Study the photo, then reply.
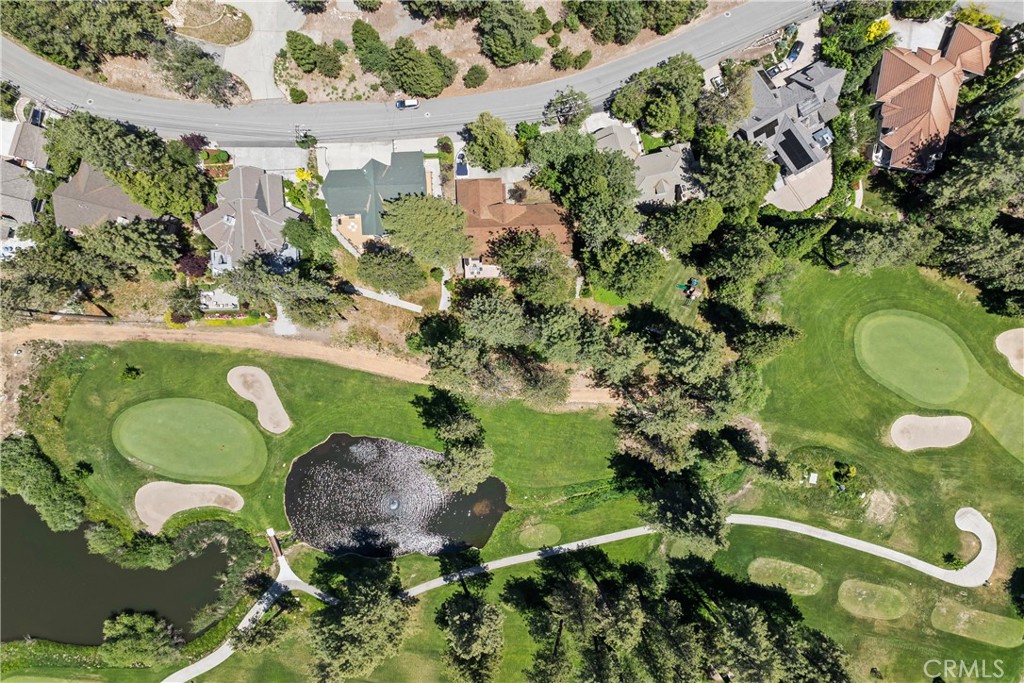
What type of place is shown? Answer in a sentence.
The picture captures a golf course.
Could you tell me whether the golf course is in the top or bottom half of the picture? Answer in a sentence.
The bottom half of the photo is where the golf course is.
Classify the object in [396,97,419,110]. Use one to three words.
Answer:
vehicle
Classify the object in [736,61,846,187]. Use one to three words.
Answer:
house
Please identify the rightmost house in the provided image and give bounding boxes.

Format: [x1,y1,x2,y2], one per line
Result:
[870,22,999,179]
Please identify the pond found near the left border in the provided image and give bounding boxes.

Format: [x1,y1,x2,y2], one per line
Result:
[0,474,227,646]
